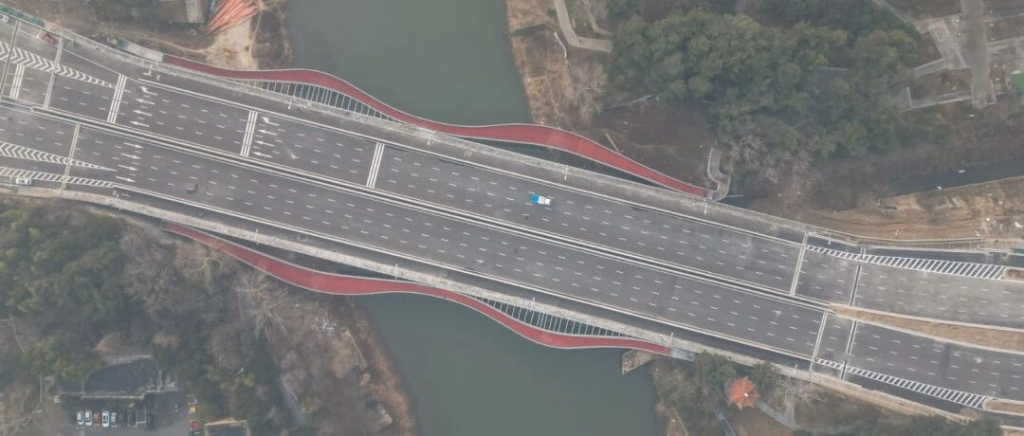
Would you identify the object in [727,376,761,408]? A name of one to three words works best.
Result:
building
